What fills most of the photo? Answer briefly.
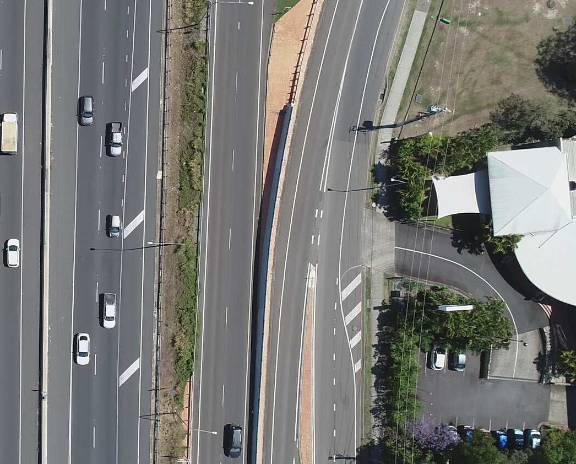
paved ground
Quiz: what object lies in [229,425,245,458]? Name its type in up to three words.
car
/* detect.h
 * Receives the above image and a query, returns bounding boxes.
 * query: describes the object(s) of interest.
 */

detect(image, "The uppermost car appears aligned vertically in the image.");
[82,94,96,125]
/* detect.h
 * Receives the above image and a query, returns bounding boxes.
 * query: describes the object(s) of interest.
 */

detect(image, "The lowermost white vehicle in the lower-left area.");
[76,333,92,365]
